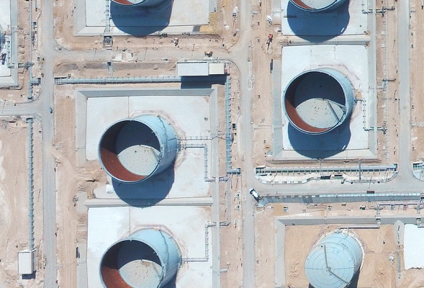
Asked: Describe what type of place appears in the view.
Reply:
industrial area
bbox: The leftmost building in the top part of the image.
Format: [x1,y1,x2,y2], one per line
[177,61,212,76]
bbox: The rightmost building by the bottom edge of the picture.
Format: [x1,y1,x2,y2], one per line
[19,250,39,274]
